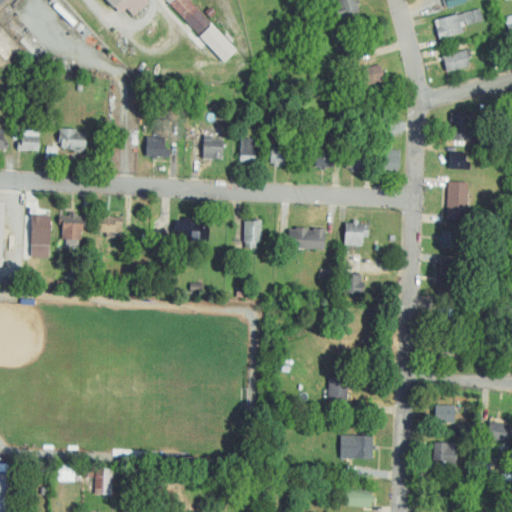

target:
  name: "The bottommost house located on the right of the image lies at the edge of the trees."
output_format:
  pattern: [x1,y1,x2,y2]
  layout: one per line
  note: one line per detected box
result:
[347,490,376,511]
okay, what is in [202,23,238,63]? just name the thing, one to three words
barn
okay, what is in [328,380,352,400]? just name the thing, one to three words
house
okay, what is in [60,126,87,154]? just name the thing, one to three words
house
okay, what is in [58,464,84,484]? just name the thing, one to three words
shed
